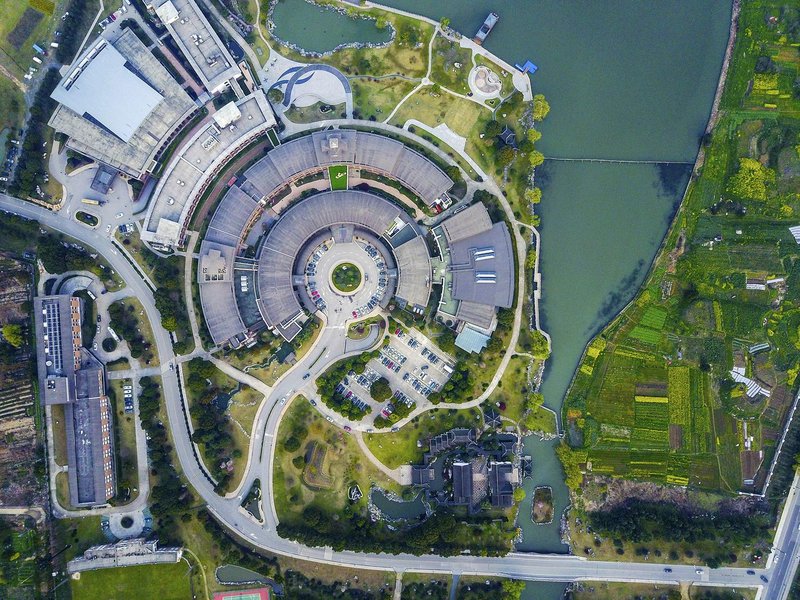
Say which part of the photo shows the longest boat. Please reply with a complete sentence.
You can find the longest boat in the top area of the picture.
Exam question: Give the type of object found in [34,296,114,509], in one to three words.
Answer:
building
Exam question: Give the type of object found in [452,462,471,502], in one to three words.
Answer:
building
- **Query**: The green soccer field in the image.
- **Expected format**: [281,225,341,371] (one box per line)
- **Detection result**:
[70,562,193,600]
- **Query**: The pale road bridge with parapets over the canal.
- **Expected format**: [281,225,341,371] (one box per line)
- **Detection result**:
[499,555,589,584]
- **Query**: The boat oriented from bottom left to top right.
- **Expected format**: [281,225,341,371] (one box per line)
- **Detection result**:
[473,15,495,45]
